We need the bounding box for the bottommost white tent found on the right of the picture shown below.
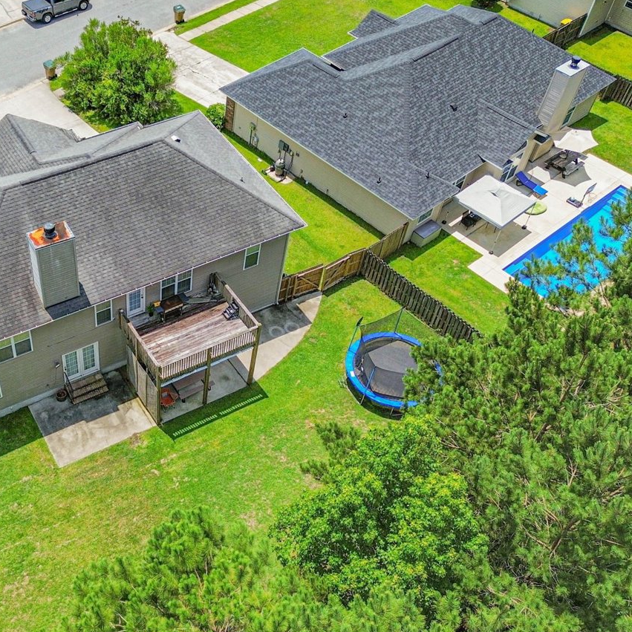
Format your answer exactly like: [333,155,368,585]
[440,175,539,261]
